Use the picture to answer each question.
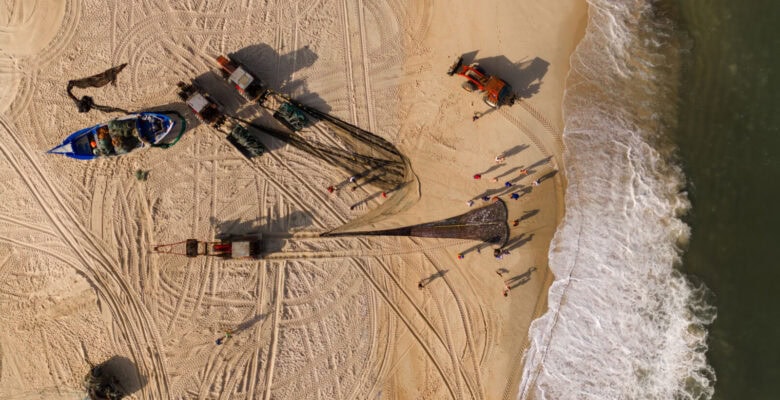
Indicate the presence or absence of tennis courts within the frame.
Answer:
No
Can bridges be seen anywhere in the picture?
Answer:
No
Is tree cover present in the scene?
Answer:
No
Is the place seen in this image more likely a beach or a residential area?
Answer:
beach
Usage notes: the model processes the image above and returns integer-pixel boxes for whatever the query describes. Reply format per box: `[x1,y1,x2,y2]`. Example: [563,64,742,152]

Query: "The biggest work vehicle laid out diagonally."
[446,59,515,117]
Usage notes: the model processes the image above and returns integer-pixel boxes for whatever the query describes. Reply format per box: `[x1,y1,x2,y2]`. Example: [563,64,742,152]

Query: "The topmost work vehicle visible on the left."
[222,60,270,104]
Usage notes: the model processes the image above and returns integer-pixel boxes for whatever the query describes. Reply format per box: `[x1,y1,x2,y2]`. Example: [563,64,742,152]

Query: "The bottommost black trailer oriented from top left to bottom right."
[224,123,265,160]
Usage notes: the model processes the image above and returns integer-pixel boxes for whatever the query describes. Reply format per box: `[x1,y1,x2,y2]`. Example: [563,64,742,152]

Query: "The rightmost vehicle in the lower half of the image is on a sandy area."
[217,232,270,260]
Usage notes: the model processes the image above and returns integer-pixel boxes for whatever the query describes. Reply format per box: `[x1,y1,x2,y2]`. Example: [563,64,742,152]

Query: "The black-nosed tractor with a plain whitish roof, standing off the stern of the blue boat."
[176,81,230,126]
